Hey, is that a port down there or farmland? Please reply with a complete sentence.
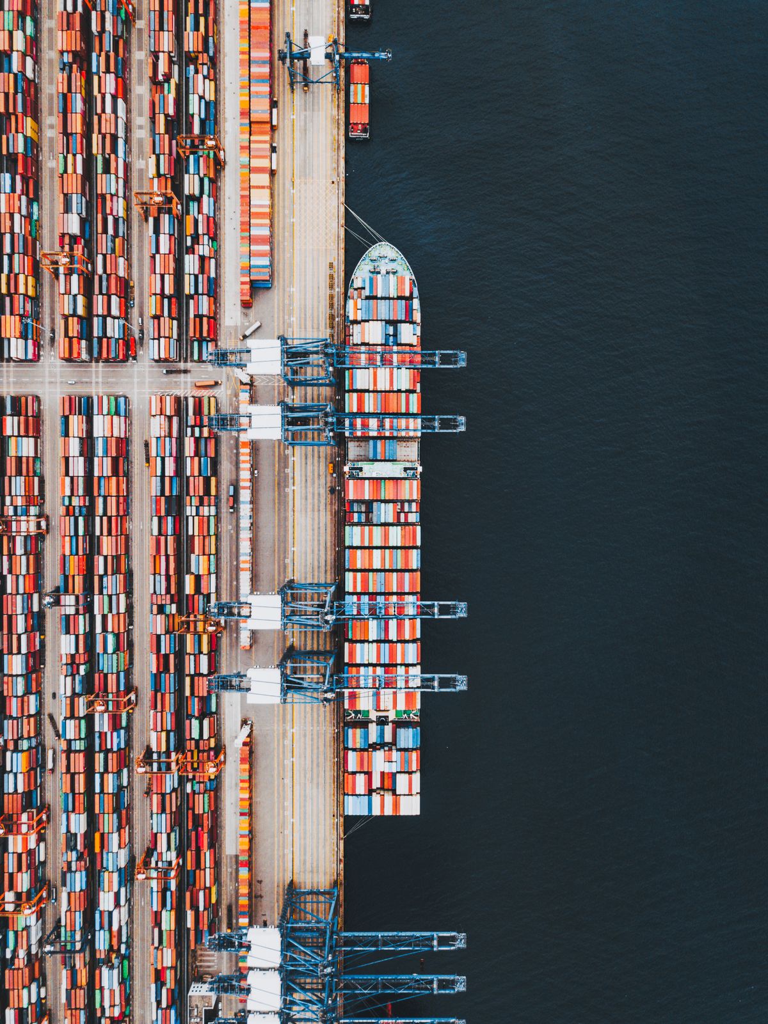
What you see here is a port.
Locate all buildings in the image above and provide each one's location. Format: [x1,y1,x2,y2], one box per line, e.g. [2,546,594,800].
[188,983,217,1024]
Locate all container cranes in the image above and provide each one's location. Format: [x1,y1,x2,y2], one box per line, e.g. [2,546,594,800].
[211,579,466,632]
[41,918,90,955]
[41,250,90,277]
[279,24,389,89]
[179,746,224,776]
[211,335,467,392]
[135,847,185,883]
[177,134,224,166]
[211,400,467,451]
[42,587,88,609]
[212,924,464,1023]
[87,688,136,715]
[212,883,465,976]
[135,747,184,776]
[0,998,50,1024]
[213,969,464,1024]
[134,189,182,219]
[83,0,133,22]
[211,646,466,705]
[0,514,48,534]
[0,804,50,839]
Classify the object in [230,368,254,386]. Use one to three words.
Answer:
work vehicle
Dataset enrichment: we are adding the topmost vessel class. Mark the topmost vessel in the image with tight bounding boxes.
[351,0,373,26]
